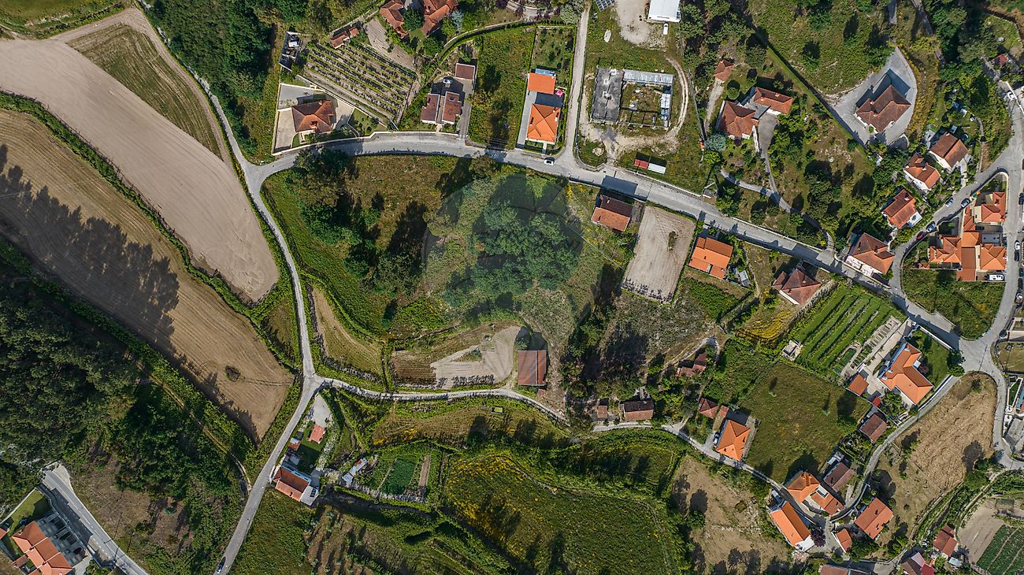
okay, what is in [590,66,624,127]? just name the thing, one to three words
building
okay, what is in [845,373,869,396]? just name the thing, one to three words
shed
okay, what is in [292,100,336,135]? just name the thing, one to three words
house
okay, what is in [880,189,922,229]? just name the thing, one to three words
house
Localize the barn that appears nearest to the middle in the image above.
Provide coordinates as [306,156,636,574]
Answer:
[517,350,546,388]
